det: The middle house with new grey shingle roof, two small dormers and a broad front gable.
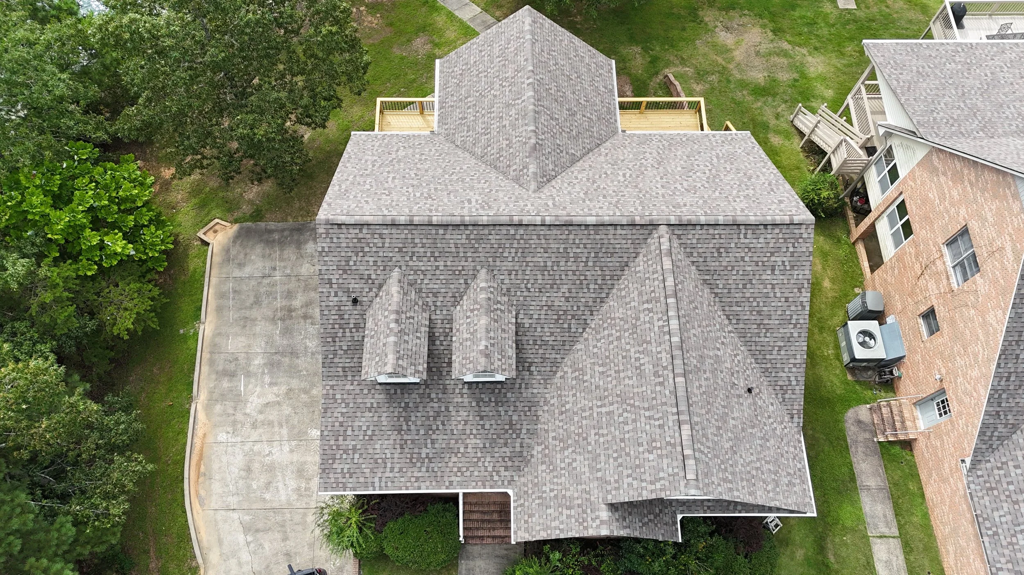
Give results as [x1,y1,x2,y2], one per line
[314,5,820,546]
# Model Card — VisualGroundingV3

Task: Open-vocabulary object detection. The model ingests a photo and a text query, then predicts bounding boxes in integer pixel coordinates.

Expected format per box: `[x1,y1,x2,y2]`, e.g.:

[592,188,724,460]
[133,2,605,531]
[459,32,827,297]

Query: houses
[314,5,820,546]
[843,39,1024,575]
